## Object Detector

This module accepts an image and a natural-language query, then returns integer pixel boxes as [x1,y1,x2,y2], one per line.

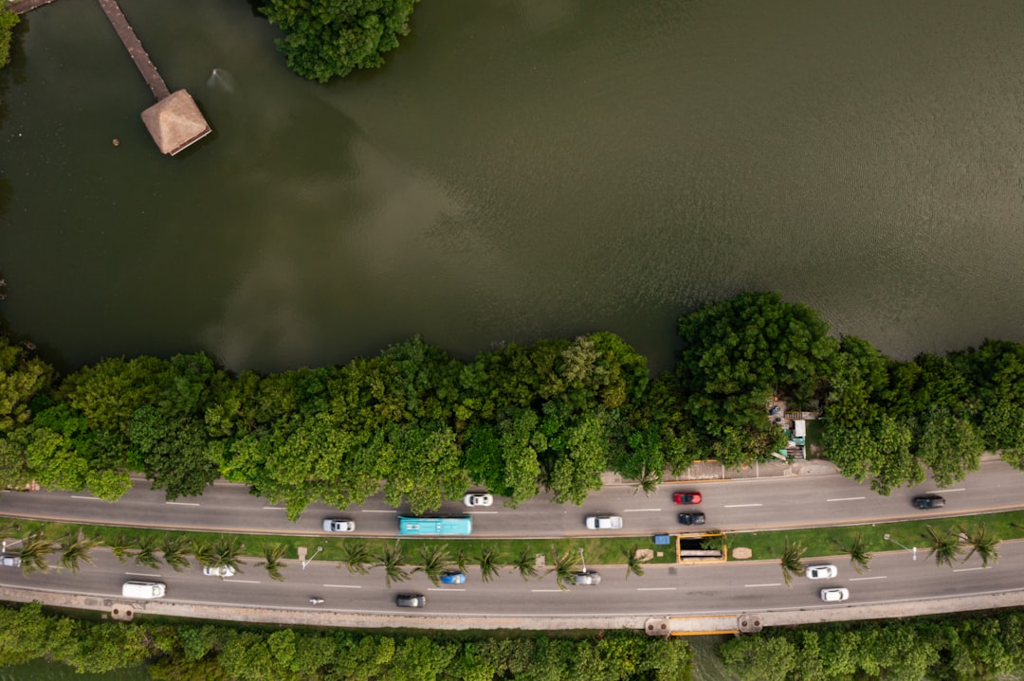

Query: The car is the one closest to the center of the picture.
[464,492,493,507]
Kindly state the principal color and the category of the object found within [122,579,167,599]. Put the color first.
white vehicle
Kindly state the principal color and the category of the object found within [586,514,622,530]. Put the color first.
white vehicle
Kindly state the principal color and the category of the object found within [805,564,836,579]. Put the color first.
white car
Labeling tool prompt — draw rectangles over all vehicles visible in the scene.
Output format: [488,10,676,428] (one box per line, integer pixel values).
[570,570,600,586]
[586,514,622,530]
[0,554,23,569]
[122,579,167,599]
[819,587,848,602]
[205,564,236,579]
[464,492,493,507]
[677,511,705,526]
[397,593,425,608]
[441,570,467,585]
[673,490,701,505]
[395,511,475,534]
[323,517,355,532]
[805,564,836,579]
